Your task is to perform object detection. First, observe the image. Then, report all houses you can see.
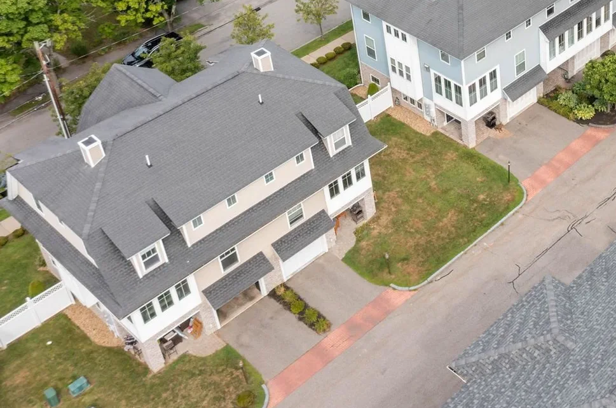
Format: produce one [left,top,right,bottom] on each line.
[344,0,616,147]
[423,240,616,408]
[0,38,388,371]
